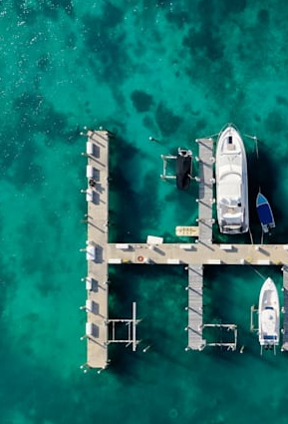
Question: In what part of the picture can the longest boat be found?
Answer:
right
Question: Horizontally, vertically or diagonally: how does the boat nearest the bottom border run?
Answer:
vertically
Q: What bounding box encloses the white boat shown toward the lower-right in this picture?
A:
[259,277,280,348]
